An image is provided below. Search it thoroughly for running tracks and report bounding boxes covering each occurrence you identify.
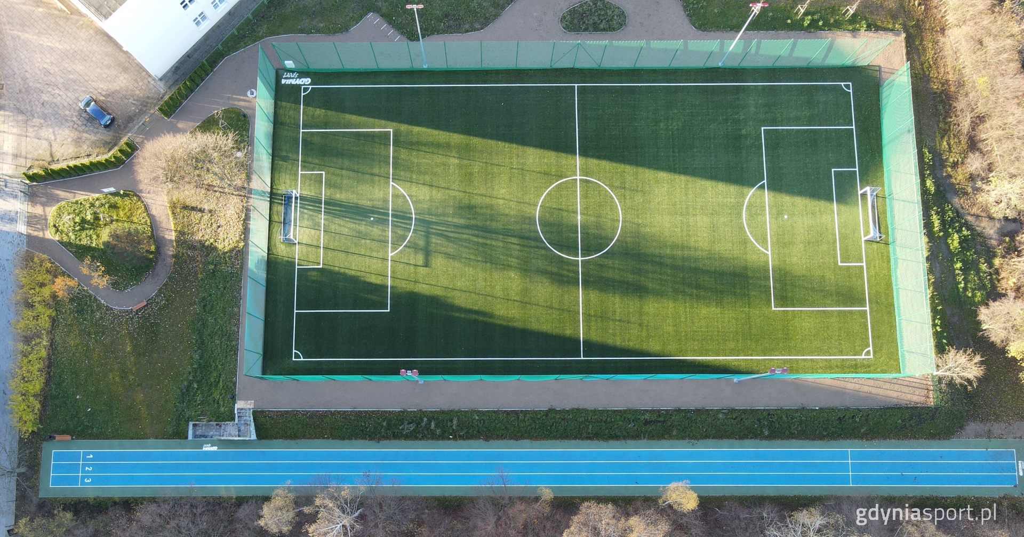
[37,439,1024,500]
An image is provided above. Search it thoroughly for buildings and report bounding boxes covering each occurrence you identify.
[72,0,239,78]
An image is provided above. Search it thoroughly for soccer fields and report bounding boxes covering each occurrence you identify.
[263,66,897,376]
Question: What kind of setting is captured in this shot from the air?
sports ground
